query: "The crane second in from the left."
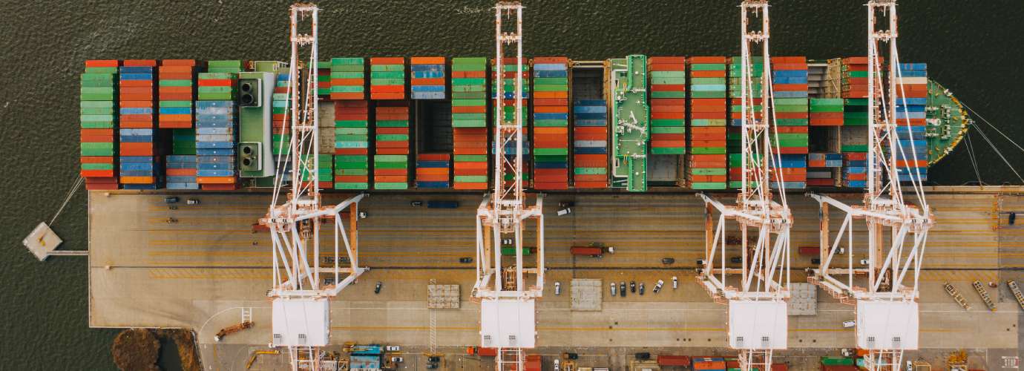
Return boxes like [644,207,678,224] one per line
[466,1,552,371]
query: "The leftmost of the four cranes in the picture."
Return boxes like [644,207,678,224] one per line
[255,1,377,371]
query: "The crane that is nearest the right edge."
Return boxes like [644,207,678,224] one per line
[800,1,938,371]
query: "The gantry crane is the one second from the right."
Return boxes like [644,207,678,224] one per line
[691,1,798,371]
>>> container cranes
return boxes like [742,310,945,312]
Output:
[255,1,377,371]
[466,1,552,371]
[691,1,798,371]
[800,1,938,371]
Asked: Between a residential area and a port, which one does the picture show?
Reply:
port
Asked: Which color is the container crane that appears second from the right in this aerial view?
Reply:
white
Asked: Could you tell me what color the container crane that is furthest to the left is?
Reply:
white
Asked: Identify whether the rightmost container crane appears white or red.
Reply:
white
